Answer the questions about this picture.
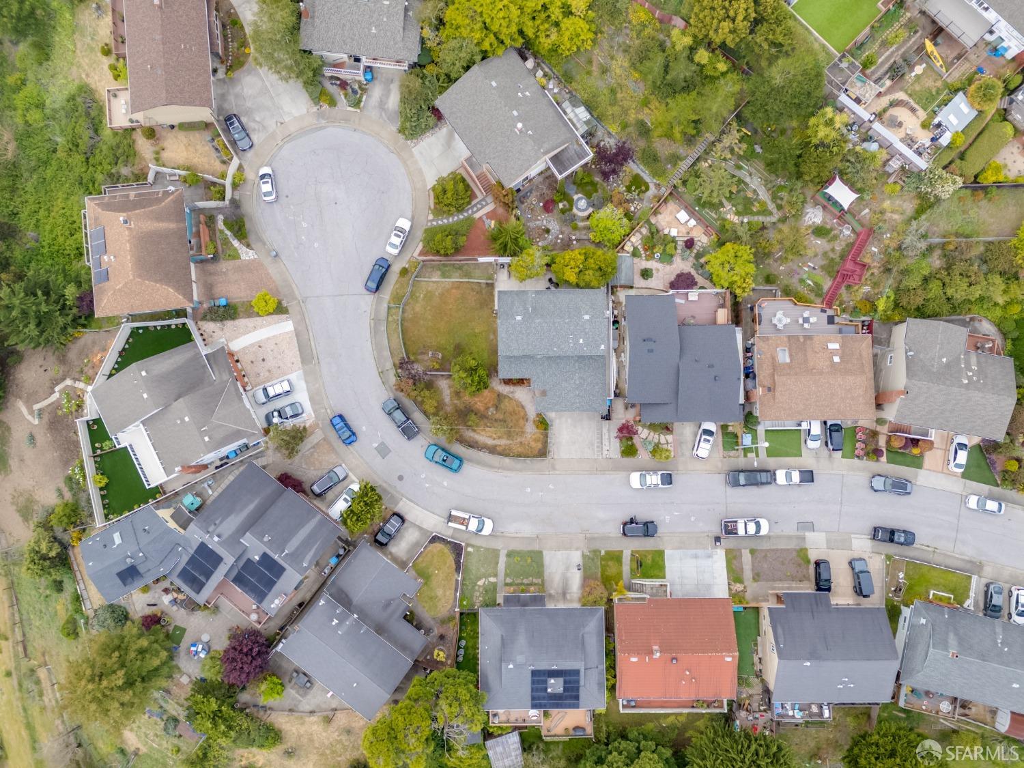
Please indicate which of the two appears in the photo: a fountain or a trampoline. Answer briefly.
fountain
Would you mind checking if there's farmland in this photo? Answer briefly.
No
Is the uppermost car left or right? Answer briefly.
left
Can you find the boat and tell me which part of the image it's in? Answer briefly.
top right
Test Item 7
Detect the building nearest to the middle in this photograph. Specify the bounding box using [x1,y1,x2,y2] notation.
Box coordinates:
[498,288,608,413]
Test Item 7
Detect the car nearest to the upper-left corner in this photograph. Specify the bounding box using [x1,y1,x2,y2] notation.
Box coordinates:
[221,108,255,154]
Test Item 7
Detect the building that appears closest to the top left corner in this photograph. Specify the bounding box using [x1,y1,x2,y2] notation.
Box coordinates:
[101,0,228,135]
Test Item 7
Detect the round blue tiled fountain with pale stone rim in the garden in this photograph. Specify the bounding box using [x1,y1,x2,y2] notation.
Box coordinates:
[569,190,594,216]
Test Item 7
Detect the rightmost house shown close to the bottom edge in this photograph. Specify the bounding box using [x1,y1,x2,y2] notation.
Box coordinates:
[892,599,1024,739]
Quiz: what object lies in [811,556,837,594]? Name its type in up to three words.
car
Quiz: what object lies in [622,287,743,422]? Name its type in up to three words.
house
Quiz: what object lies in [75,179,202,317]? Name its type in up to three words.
house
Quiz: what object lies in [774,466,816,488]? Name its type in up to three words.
truck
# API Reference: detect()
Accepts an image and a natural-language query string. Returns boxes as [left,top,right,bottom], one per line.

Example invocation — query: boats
[924,39,946,72]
